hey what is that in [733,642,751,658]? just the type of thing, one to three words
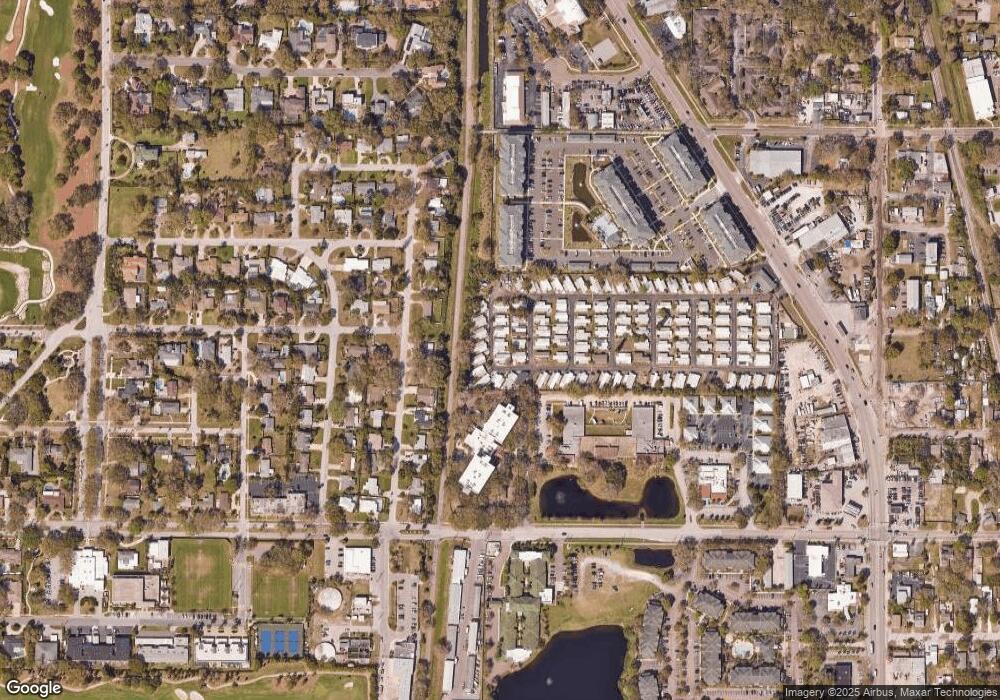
swimming pool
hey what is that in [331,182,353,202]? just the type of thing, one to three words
house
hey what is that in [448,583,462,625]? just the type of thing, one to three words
shed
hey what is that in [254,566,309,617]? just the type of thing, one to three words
sports field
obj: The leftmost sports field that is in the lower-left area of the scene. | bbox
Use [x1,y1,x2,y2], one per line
[174,540,231,611]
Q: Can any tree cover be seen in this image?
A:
Yes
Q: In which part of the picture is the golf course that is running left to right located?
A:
bottom left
